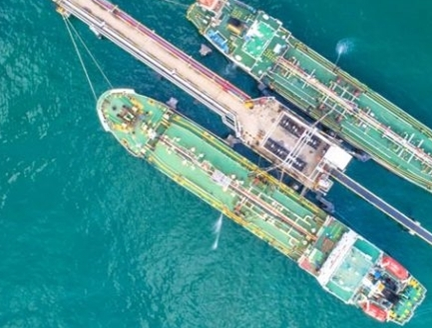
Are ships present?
Yes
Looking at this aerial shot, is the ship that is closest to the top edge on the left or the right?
right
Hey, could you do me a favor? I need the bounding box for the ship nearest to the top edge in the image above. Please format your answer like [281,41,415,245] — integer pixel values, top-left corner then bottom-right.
[186,0,432,194]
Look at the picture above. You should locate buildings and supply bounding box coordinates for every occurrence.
[318,175,334,192]
[327,145,358,172]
